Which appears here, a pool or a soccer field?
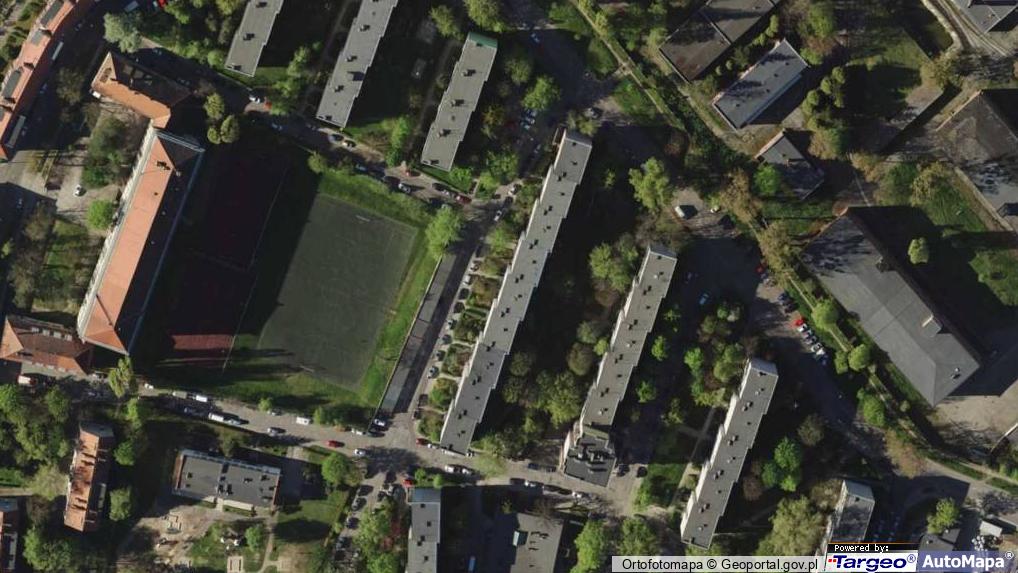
soccer field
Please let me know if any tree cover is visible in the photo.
Yes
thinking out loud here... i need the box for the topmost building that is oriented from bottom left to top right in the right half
[659,0,779,82]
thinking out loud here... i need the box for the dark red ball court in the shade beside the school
[187,146,284,267]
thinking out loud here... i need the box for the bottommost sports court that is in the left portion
[160,247,249,357]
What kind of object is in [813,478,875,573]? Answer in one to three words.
building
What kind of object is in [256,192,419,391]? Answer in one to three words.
soccer field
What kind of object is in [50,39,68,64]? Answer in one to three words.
vehicle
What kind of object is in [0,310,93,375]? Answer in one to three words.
house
